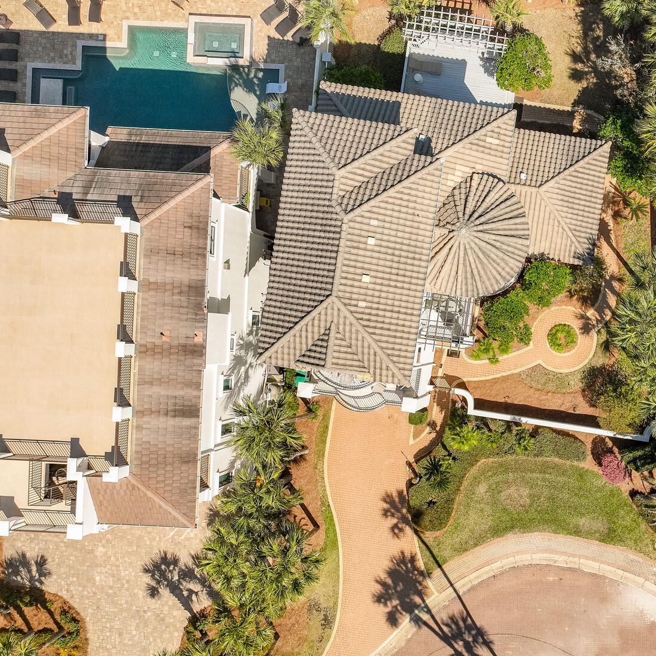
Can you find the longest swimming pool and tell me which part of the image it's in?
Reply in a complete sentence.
You can find the longest swimming pool in the top left area of the picture.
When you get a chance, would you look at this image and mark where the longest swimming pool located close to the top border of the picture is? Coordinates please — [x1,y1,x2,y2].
[26,20,283,147]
